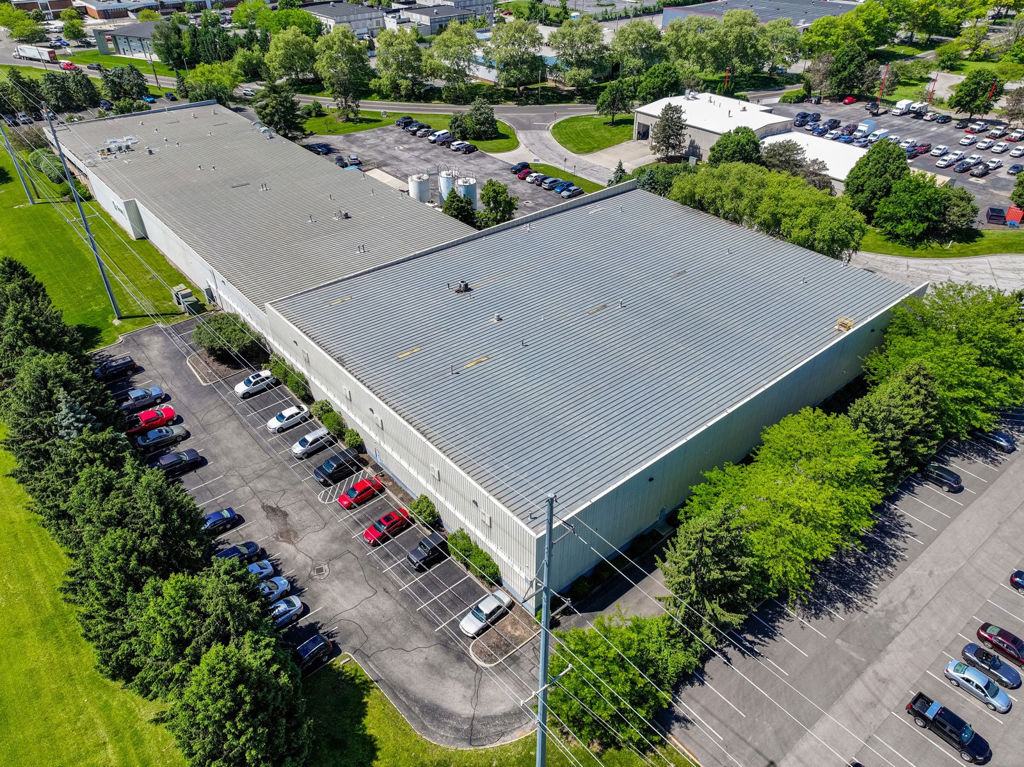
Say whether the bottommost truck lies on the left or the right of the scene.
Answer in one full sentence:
The bottommost truck appears in the right half of the scene.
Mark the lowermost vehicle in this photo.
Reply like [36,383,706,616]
[901,687,994,767]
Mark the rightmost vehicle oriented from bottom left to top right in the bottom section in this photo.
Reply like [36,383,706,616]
[449,597,506,645]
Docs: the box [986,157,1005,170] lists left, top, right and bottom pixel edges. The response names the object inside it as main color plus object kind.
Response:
white vehicle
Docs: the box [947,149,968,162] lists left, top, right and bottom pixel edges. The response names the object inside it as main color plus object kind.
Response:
white vehicle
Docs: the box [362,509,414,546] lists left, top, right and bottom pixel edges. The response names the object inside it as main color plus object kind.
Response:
red car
